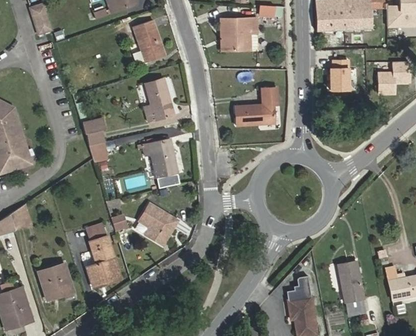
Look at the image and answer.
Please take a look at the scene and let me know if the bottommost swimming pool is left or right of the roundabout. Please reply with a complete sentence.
The bottommost swimming pool can be seen on the left of the roundabout.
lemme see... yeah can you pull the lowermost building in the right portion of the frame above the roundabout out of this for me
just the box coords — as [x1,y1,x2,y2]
[235,86,280,126]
